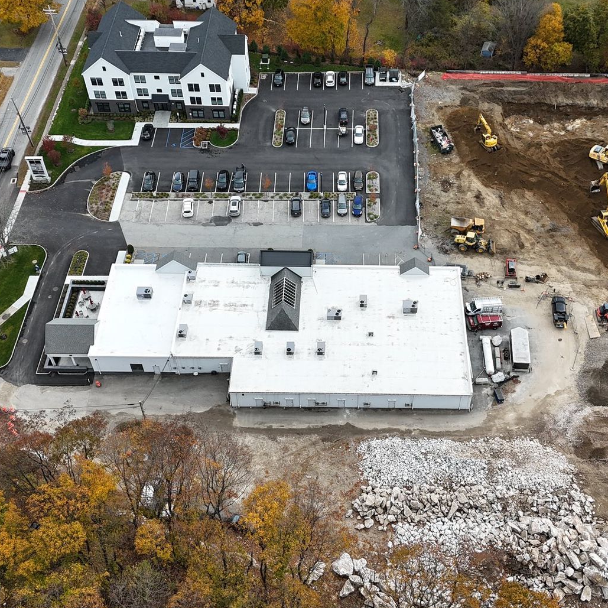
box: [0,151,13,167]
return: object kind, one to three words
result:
vehicle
